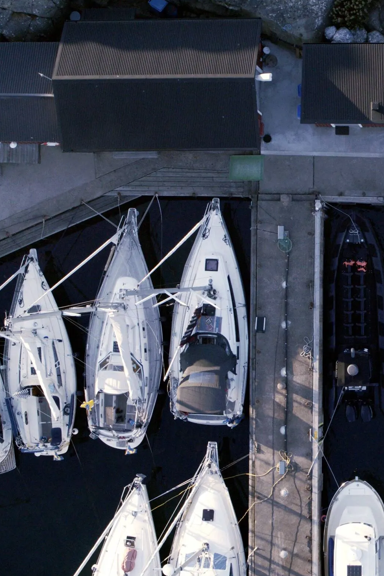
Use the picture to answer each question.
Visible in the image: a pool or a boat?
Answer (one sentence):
There is a boat in the scene.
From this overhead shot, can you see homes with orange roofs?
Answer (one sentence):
No, I can't see a single home with an orange roof in this photo.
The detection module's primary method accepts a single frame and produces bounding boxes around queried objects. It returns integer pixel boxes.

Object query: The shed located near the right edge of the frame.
[300,40,384,131]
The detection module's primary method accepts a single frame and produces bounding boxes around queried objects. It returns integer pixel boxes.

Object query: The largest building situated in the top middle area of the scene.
[52,16,278,154]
